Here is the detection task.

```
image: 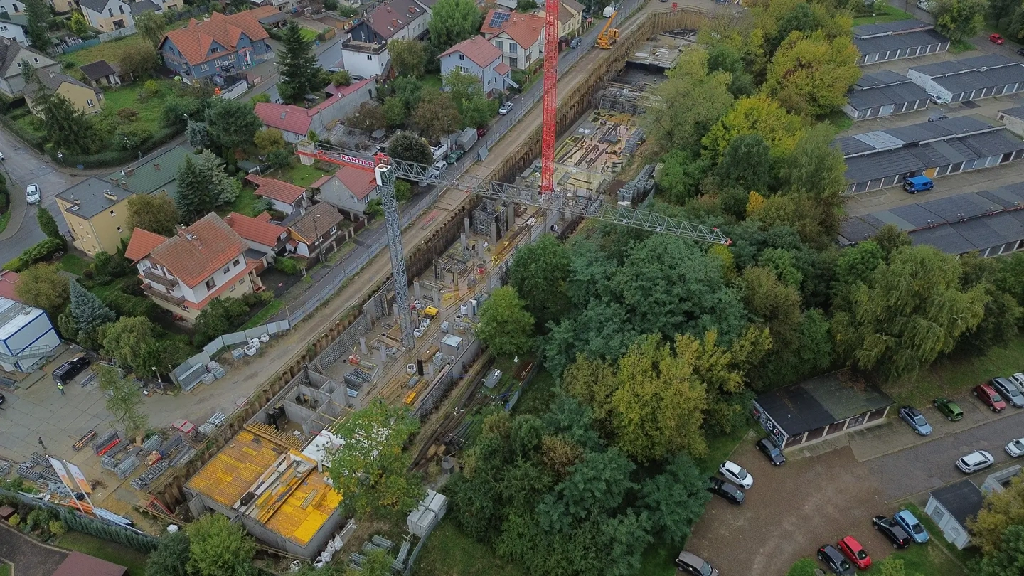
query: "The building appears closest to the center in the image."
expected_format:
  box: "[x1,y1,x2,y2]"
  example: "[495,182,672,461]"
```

[436,333,460,362]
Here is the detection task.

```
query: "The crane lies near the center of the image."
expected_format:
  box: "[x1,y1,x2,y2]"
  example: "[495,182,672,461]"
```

[294,147,731,357]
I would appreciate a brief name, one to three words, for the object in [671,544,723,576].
car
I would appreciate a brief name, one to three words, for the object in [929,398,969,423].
car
